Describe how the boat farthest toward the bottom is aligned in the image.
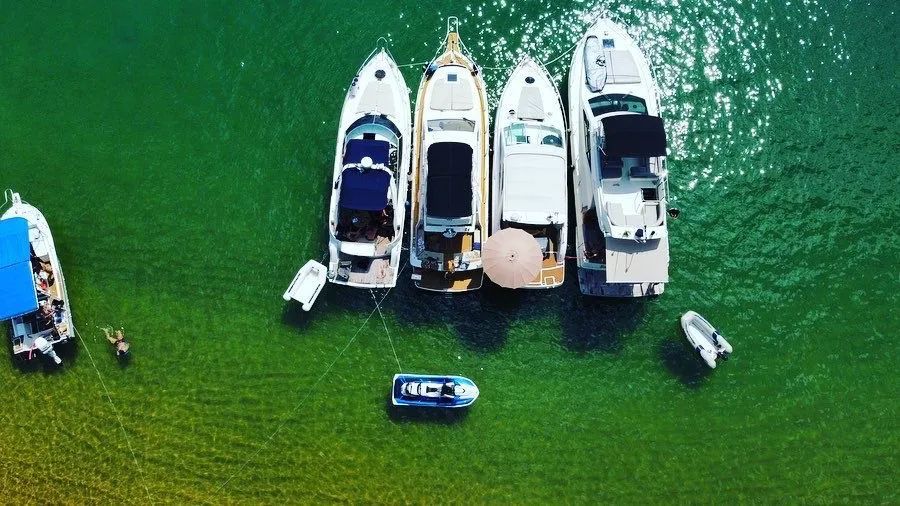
horizontally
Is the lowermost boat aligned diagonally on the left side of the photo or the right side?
right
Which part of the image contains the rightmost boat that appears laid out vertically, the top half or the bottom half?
top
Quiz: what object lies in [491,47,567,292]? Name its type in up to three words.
boat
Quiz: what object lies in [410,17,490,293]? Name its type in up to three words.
boat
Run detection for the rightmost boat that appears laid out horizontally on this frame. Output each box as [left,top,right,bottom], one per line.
[392,374,479,407]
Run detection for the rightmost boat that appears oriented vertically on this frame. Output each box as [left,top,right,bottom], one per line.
[566,11,675,299]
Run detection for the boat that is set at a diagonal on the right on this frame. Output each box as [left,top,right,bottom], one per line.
[681,311,741,373]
